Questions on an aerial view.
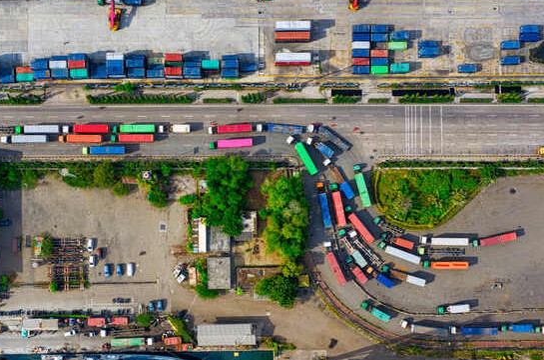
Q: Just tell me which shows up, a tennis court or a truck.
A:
truck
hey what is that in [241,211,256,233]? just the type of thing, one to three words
house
